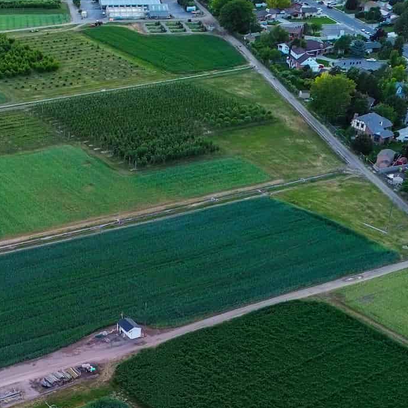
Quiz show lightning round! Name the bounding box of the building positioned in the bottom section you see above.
[117,315,144,339]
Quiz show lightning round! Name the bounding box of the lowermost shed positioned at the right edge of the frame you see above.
[380,152,408,173]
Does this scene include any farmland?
Yes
